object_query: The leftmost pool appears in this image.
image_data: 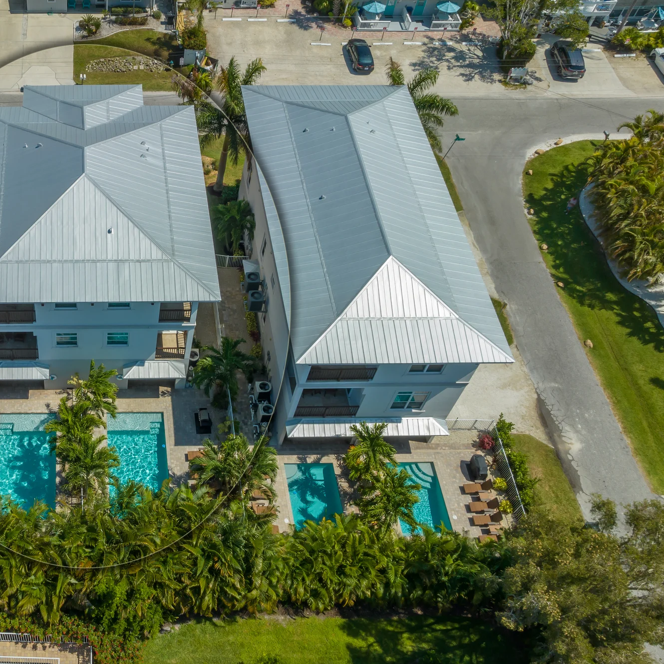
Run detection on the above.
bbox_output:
[0,408,59,522]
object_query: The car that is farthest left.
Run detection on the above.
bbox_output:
[347,37,378,69]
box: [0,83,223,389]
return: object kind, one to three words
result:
house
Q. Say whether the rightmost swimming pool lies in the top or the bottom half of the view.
bottom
